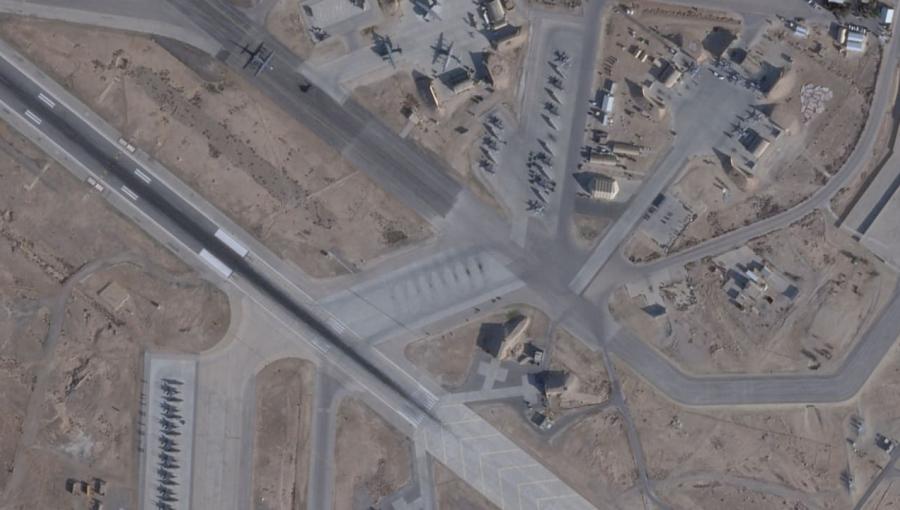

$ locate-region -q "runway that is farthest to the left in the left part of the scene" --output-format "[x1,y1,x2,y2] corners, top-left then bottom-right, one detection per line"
[0,53,257,285]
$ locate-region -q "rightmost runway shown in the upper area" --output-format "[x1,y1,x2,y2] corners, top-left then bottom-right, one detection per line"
[150,0,465,219]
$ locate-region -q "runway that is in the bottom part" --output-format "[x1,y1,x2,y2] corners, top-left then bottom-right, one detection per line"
[231,253,434,426]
